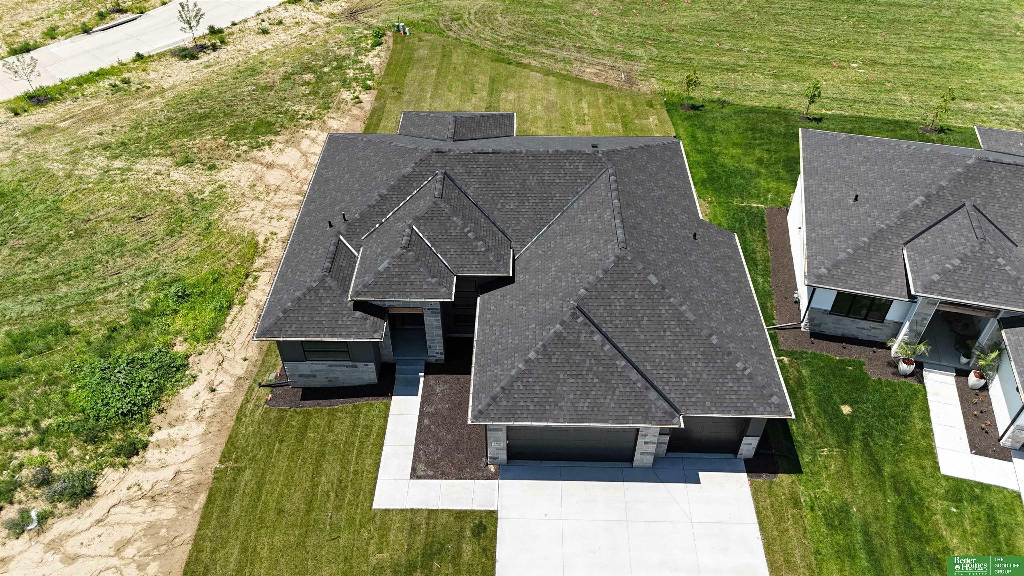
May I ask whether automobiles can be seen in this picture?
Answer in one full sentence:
No, the frame has no automobile in it.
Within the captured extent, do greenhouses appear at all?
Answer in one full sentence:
No, I find no greenhouse anywhere in the image.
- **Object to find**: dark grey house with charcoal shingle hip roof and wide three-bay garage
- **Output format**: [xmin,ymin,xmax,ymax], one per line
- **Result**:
[253,111,794,468]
